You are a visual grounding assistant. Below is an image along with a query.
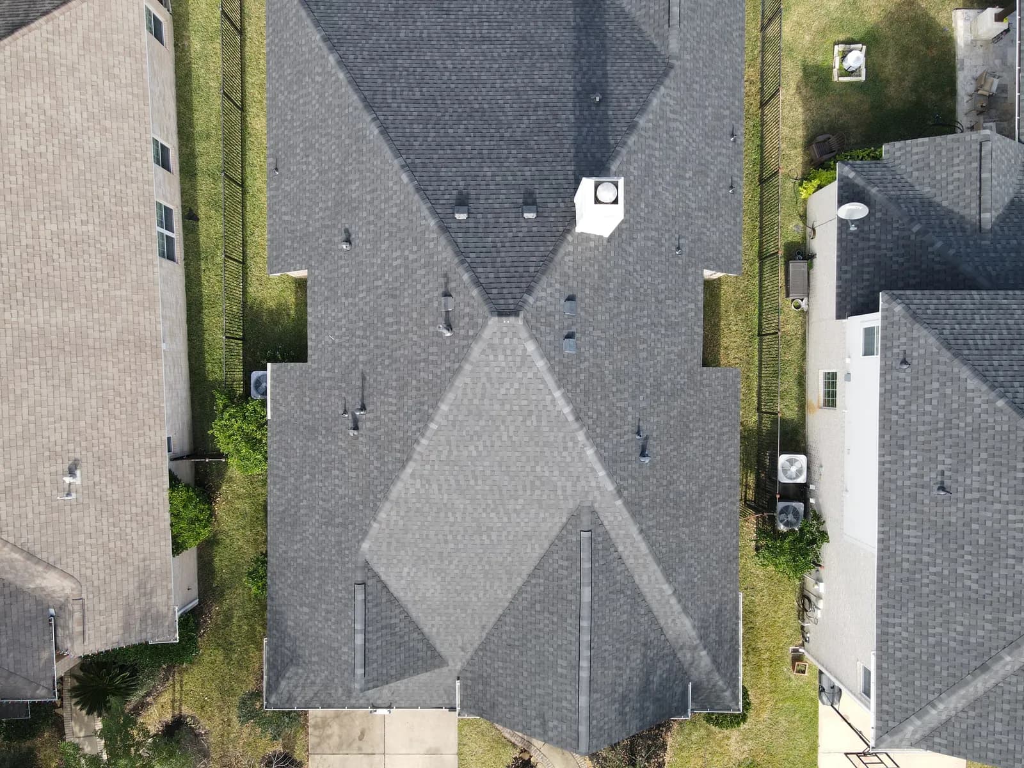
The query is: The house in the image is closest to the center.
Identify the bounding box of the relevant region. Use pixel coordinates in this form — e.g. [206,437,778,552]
[262,0,748,757]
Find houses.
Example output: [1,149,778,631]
[0,0,200,719]
[262,0,748,757]
[802,0,1024,768]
